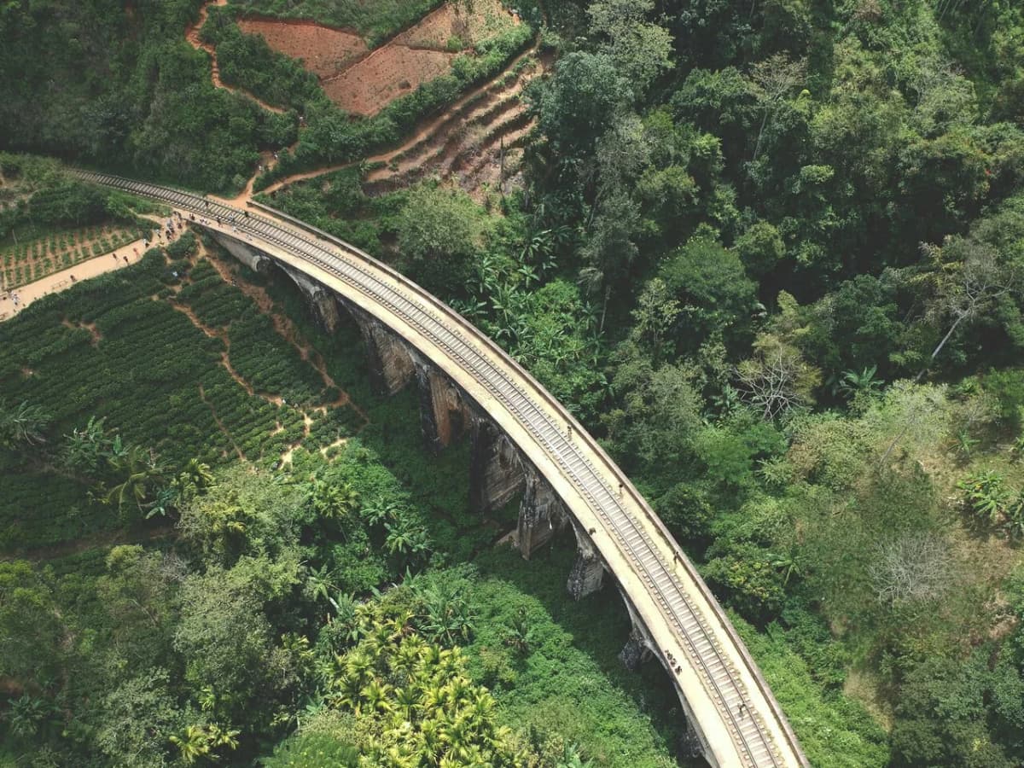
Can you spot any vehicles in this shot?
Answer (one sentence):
No, the photo shows no vehicle.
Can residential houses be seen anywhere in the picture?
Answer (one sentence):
No, the photo shows no residential house.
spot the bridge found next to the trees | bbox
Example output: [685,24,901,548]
[156,187,813,768]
